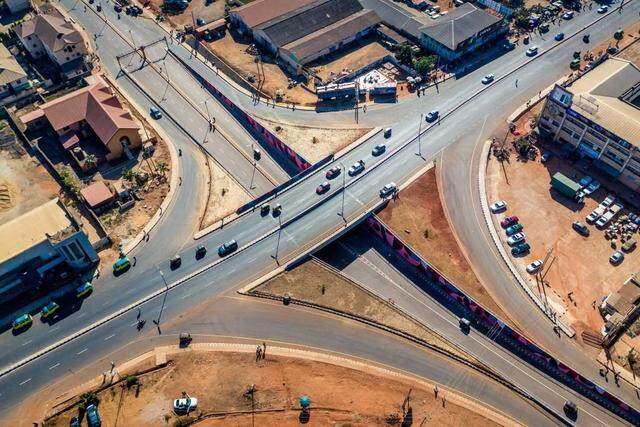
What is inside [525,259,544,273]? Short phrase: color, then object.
white vehicle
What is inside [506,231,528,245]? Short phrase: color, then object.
white car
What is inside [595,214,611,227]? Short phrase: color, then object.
white vehicle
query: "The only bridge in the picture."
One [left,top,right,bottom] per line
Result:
[239,153,395,266]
